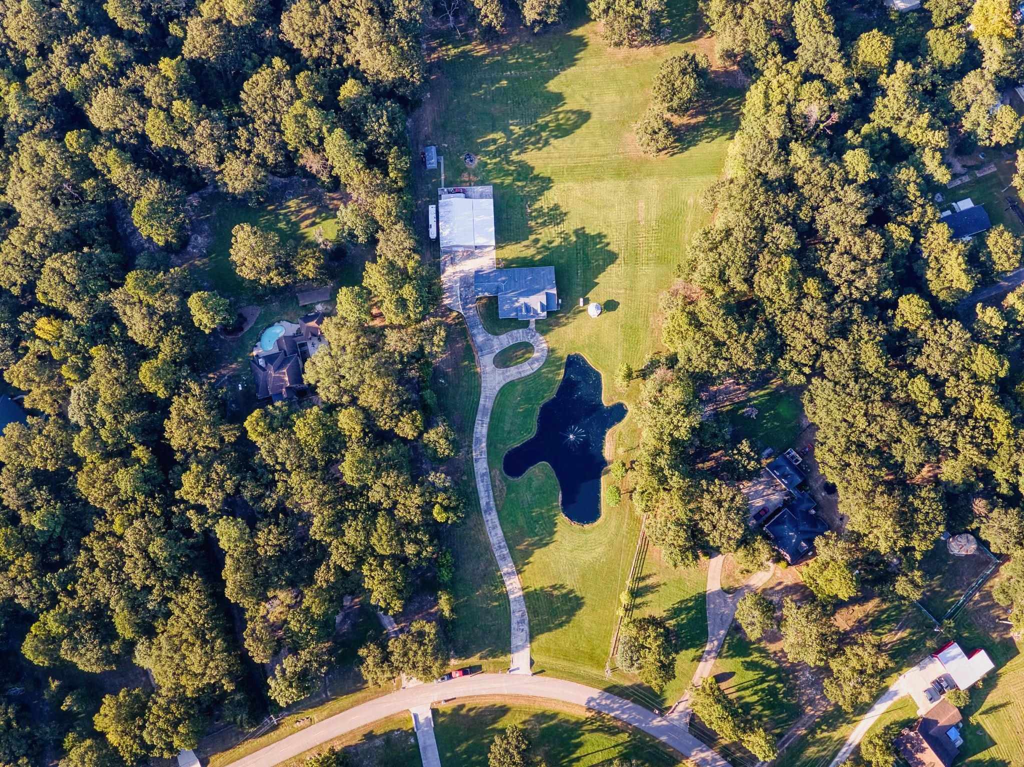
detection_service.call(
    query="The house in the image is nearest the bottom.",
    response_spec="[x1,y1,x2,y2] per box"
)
[892,698,963,767]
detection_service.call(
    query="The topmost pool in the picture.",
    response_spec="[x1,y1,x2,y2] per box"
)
[259,324,286,351]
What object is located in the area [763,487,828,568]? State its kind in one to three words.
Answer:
house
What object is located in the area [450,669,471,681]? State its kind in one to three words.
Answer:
vehicle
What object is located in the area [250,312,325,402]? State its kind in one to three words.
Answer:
building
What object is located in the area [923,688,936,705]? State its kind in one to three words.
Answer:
vehicle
